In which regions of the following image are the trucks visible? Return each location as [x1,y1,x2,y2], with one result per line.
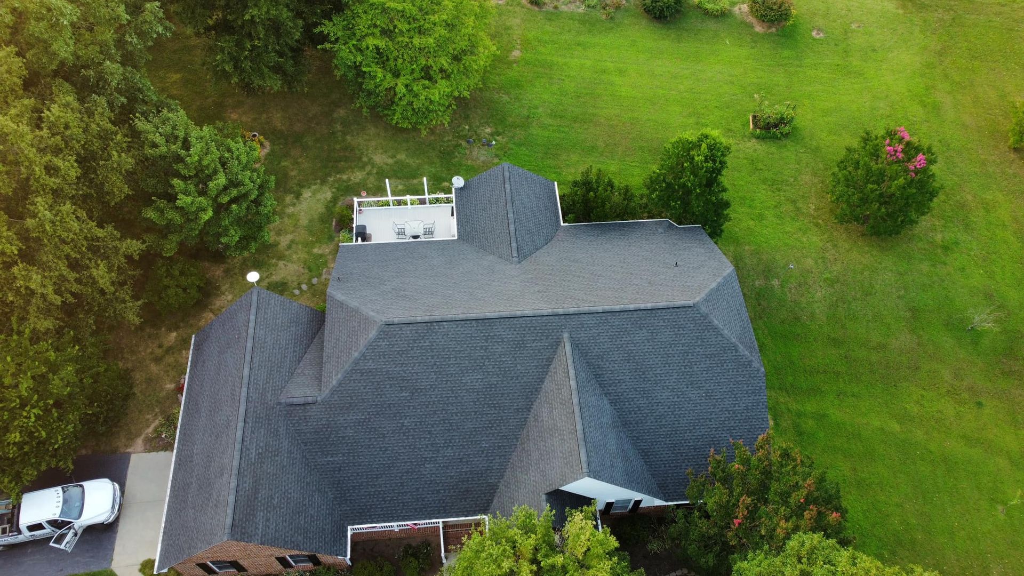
[0,480,129,558]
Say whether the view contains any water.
No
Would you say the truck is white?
Yes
